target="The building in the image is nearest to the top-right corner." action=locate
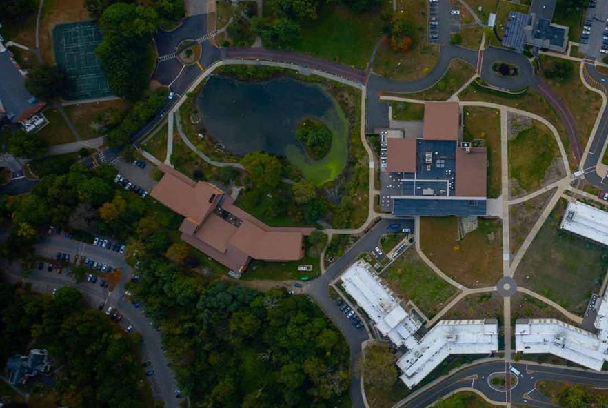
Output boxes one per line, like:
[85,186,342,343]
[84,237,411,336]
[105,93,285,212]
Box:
[502,0,569,53]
